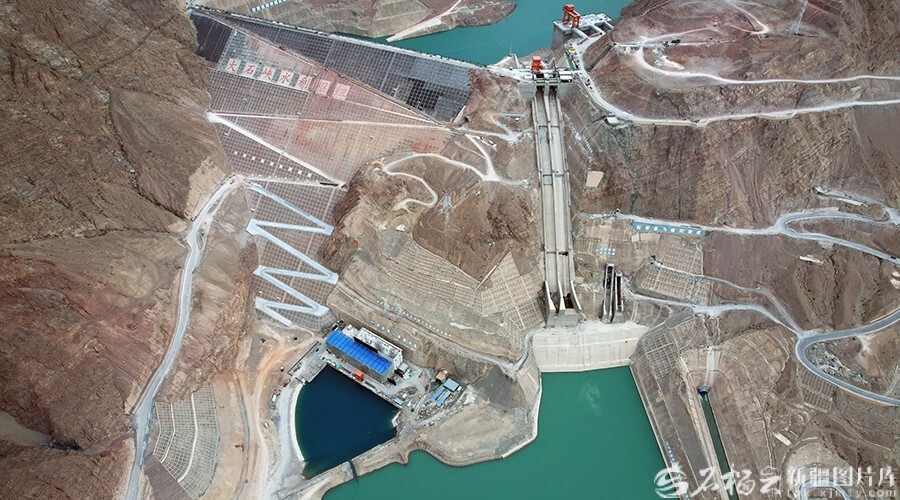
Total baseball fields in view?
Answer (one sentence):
No baseball fields are visible.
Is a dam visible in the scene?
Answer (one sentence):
Yes, looking at the shot, I can spot a dam.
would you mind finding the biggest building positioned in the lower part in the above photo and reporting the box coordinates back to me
[325,326,403,382]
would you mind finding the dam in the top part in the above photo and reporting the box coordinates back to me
[186,4,530,334]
